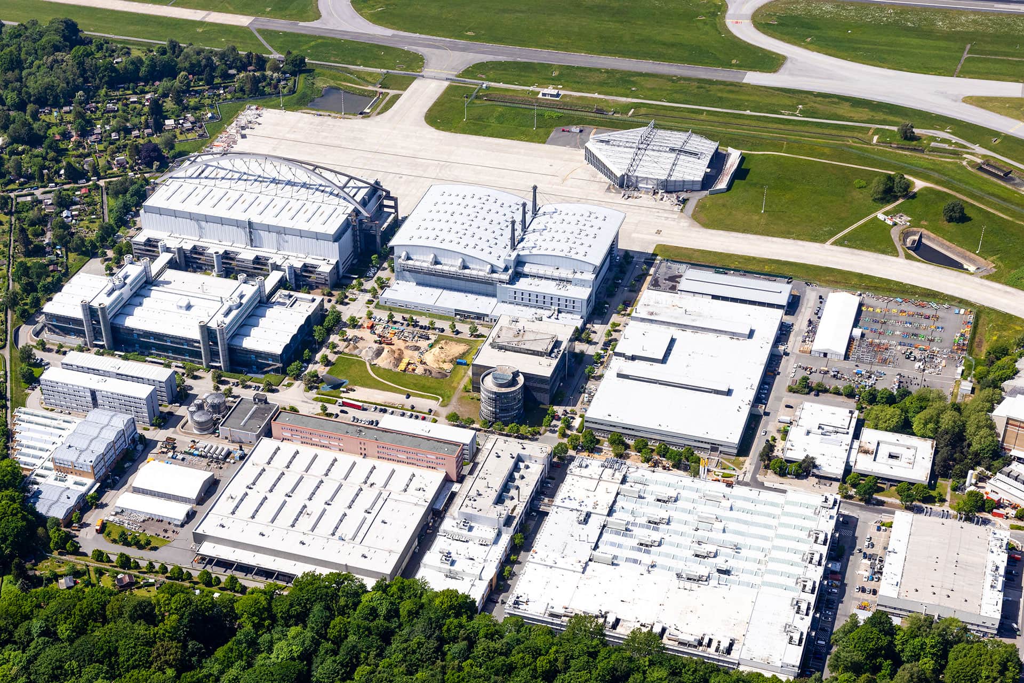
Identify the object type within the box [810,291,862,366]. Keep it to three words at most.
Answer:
tent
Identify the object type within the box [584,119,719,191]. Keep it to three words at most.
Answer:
hangar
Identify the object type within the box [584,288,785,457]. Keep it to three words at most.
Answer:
building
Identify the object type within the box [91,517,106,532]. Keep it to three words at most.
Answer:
vehicle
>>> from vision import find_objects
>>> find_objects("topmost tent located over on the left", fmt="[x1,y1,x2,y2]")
[132,461,215,506]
